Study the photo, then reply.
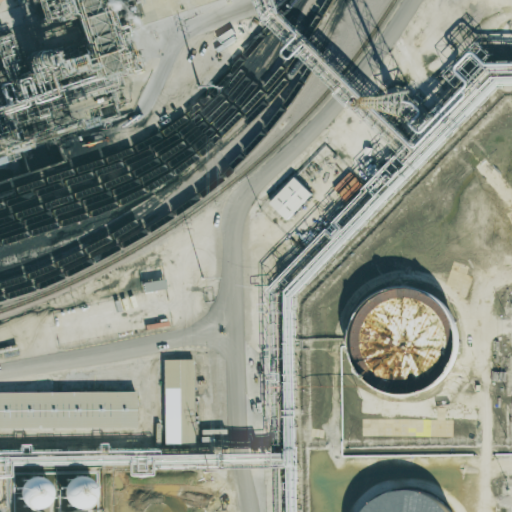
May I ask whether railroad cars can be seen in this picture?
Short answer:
Yes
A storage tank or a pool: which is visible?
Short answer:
storage tank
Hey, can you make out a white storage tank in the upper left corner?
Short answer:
No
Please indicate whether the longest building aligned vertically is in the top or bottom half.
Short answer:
bottom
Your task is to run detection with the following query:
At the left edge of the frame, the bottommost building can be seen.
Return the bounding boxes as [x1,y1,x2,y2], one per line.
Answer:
[0,390,140,434]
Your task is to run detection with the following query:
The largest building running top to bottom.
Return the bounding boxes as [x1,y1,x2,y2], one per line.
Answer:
[164,360,197,443]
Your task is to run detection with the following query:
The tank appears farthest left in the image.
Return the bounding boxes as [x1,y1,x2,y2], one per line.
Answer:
[21,475,56,508]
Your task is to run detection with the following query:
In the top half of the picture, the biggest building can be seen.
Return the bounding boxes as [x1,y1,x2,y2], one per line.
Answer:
[272,178,312,220]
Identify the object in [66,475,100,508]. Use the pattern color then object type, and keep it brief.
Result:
white storage tank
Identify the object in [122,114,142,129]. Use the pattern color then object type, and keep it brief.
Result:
white vehicle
